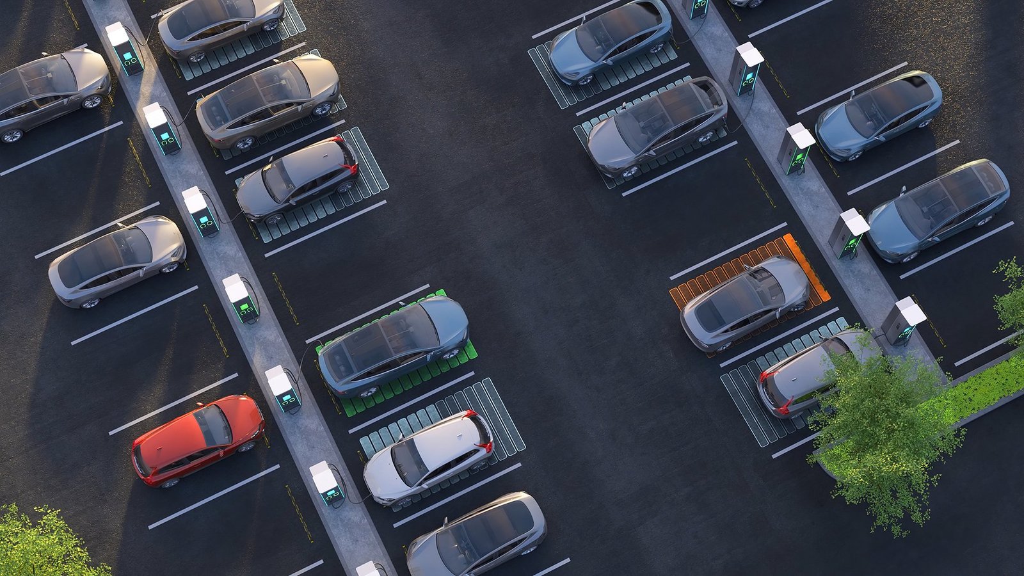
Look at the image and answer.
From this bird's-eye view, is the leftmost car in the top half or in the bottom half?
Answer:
top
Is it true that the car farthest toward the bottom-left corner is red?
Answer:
Yes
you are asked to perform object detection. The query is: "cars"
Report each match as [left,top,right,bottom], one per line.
[726,0,761,8]
[588,81,727,177]
[811,66,949,161]
[362,408,498,507]
[544,0,679,86]
[200,57,341,148]
[868,163,1008,262]
[321,297,470,396]
[42,213,191,309]
[0,51,111,142]
[401,487,555,576]
[674,252,817,352]
[127,393,266,489]
[236,134,364,225]
[151,0,290,62]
